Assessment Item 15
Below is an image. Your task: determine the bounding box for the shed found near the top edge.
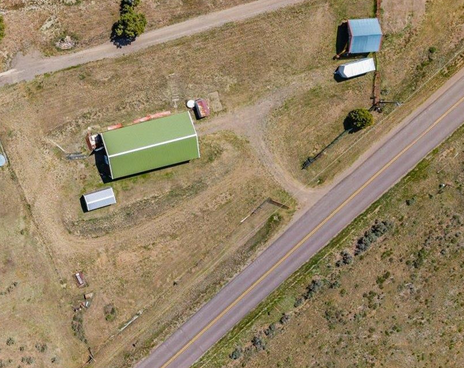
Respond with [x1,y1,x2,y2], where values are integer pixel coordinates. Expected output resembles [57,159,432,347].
[341,18,383,53]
